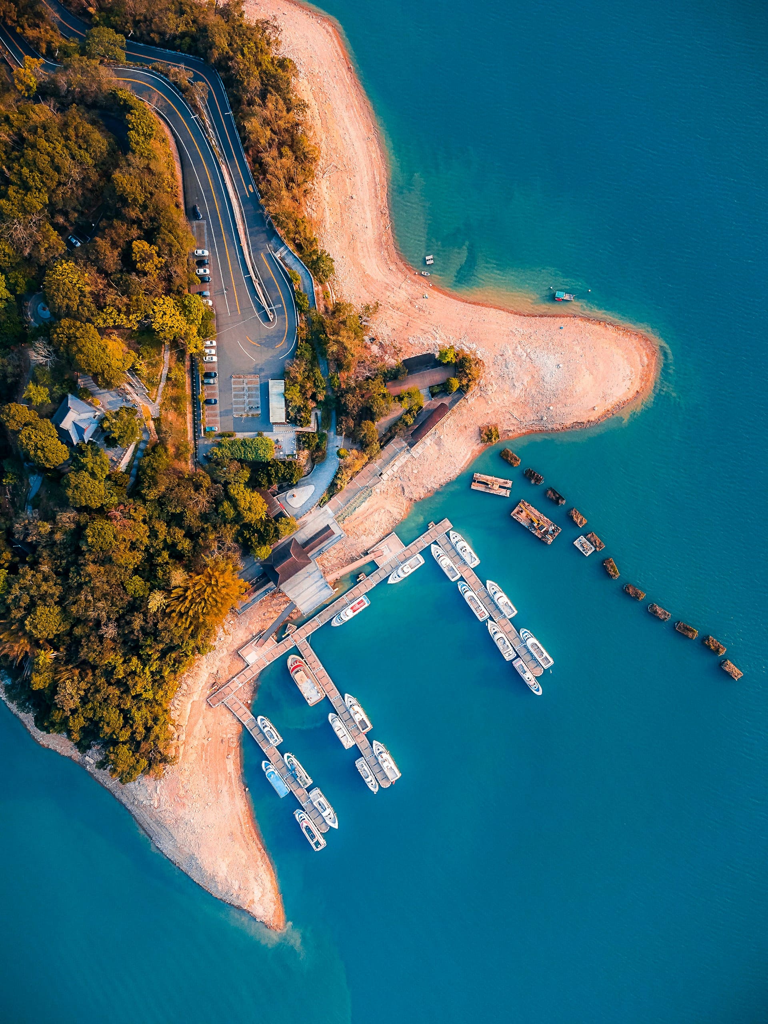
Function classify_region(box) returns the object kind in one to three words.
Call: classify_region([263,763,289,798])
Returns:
boat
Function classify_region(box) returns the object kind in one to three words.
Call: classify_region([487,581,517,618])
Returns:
boat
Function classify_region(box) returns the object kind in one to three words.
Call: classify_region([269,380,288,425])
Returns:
shed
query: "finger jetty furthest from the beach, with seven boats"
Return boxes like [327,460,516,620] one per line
[437,534,541,675]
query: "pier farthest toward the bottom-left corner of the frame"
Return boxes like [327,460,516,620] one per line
[225,696,328,830]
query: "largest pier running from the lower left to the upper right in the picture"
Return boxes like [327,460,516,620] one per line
[207,518,453,707]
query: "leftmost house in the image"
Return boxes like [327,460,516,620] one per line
[51,394,102,445]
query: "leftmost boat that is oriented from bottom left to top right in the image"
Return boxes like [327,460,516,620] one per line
[332,596,370,626]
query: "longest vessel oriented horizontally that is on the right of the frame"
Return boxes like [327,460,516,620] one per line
[471,473,512,497]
